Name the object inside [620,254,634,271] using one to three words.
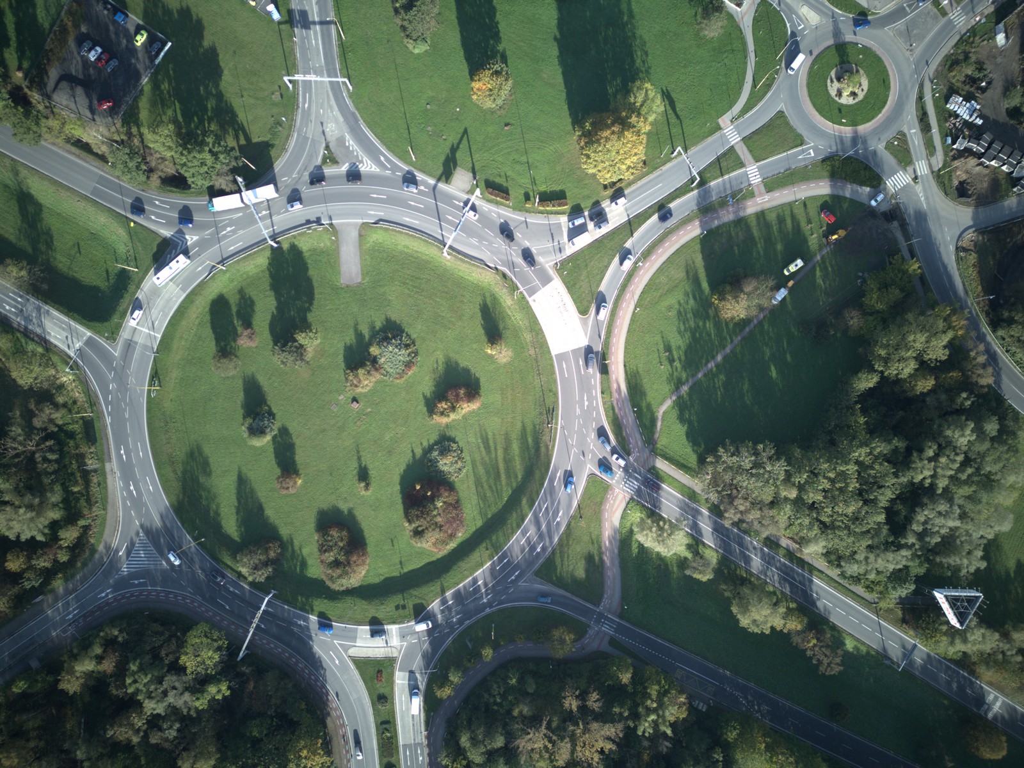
car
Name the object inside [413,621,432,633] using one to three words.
vehicle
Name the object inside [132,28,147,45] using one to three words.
car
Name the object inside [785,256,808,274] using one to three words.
vehicle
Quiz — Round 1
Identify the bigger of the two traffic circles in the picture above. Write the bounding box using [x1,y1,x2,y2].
[101,171,601,659]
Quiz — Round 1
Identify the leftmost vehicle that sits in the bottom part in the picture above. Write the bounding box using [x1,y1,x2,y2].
[166,550,179,565]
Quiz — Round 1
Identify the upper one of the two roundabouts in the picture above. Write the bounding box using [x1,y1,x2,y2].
[780,11,917,155]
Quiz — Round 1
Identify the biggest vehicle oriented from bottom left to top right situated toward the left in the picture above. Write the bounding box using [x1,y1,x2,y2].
[147,253,191,285]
